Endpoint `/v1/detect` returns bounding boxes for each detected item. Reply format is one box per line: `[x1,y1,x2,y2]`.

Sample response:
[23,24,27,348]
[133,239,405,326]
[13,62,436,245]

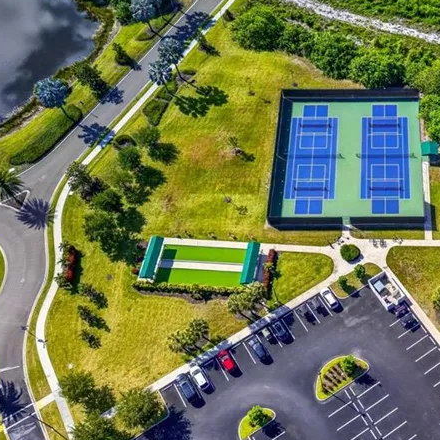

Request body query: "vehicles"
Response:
[321,286,340,309]
[218,347,237,372]
[311,297,322,312]
[191,363,210,389]
[271,320,291,344]
[248,335,267,360]
[402,316,415,330]
[261,326,273,341]
[176,373,195,400]
[296,306,307,321]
